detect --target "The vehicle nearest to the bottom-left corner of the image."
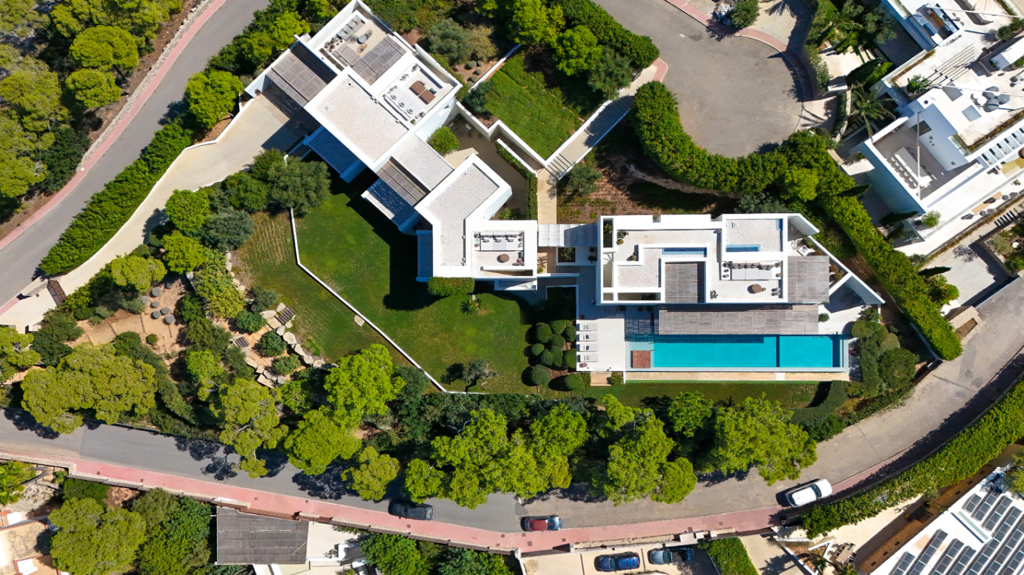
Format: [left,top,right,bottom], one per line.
[389,496,435,523]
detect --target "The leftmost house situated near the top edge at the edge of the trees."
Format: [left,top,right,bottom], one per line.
[245,0,467,229]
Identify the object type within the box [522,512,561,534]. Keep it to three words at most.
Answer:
car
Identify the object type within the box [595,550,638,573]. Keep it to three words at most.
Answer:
car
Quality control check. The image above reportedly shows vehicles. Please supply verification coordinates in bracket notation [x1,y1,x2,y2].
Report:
[595,550,638,573]
[784,476,831,511]
[389,496,435,523]
[648,545,692,567]
[522,512,561,534]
